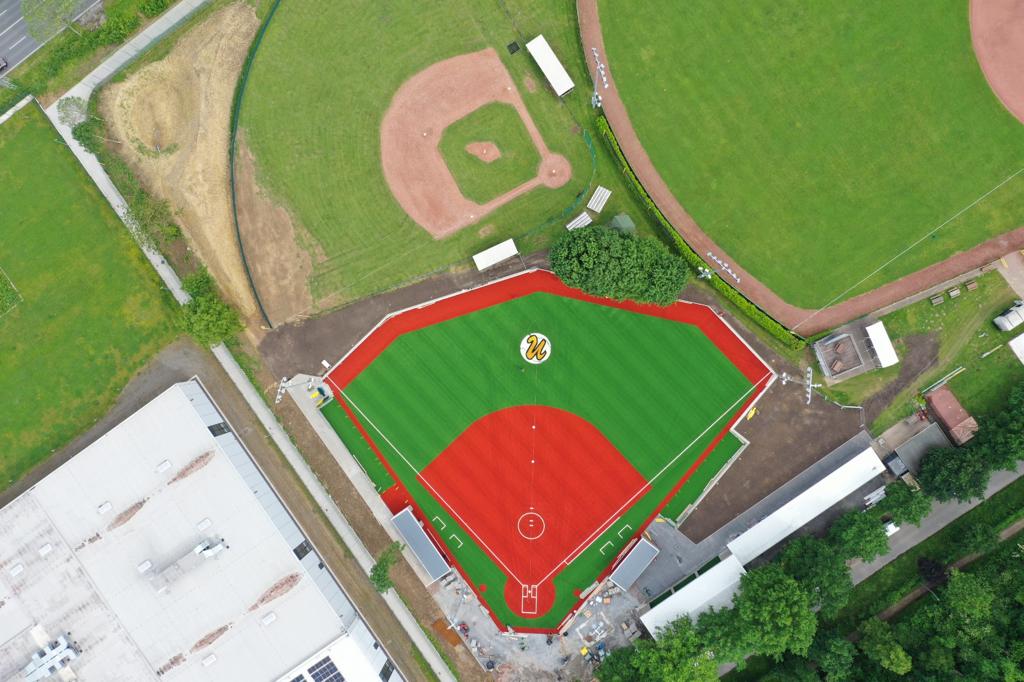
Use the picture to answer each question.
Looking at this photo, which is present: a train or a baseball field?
baseball field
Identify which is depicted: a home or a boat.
home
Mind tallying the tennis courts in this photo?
0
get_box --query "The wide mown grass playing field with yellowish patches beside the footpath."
[0,103,186,488]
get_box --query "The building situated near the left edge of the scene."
[0,377,403,682]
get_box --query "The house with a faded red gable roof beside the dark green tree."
[919,387,978,445]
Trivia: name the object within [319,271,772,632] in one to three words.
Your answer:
baseball field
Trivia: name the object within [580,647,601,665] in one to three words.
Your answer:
work vehicle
